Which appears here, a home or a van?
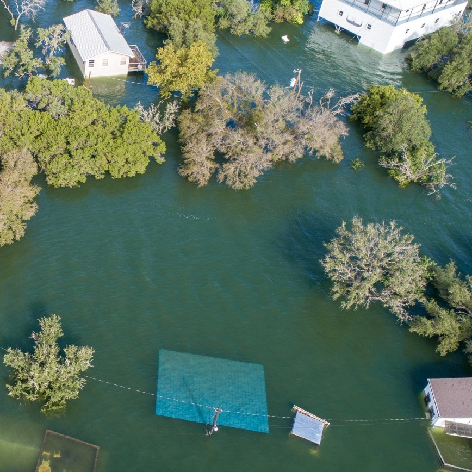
home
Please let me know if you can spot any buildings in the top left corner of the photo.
Yes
